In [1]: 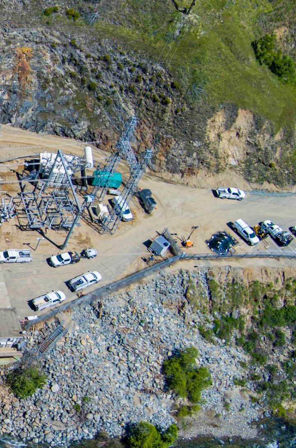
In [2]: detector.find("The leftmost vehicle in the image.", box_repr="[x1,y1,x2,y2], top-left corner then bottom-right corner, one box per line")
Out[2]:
[0,248,35,263]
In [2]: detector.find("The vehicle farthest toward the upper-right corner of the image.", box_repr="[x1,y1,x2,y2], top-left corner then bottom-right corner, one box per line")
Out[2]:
[214,188,247,203]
